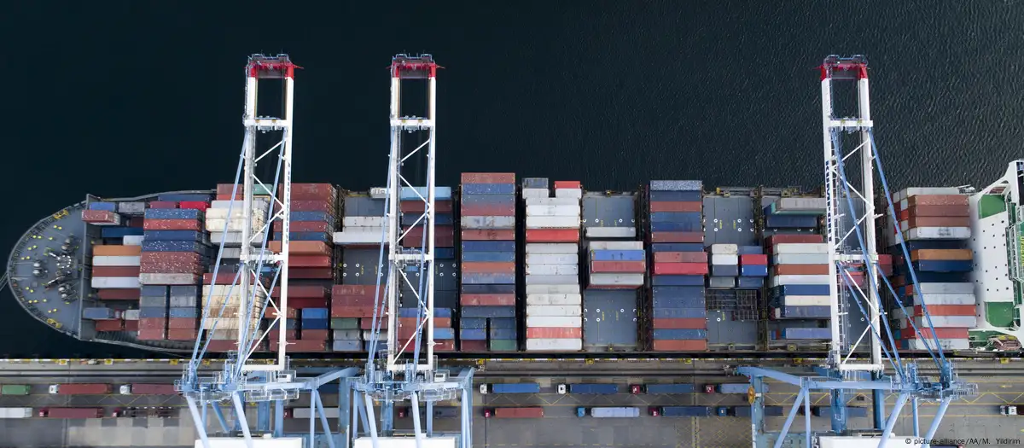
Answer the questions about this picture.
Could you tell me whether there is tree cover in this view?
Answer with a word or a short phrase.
No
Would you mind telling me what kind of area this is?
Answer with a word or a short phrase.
port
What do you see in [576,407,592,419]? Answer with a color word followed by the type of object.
blue vehicle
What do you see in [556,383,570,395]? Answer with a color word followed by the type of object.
white vehicle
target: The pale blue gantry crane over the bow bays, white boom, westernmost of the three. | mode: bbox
[168,51,378,448]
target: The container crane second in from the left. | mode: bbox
[343,52,495,448]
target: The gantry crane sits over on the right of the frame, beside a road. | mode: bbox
[715,51,968,448]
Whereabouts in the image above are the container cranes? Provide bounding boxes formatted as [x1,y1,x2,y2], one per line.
[168,51,378,448]
[715,51,968,448]
[343,52,495,448]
